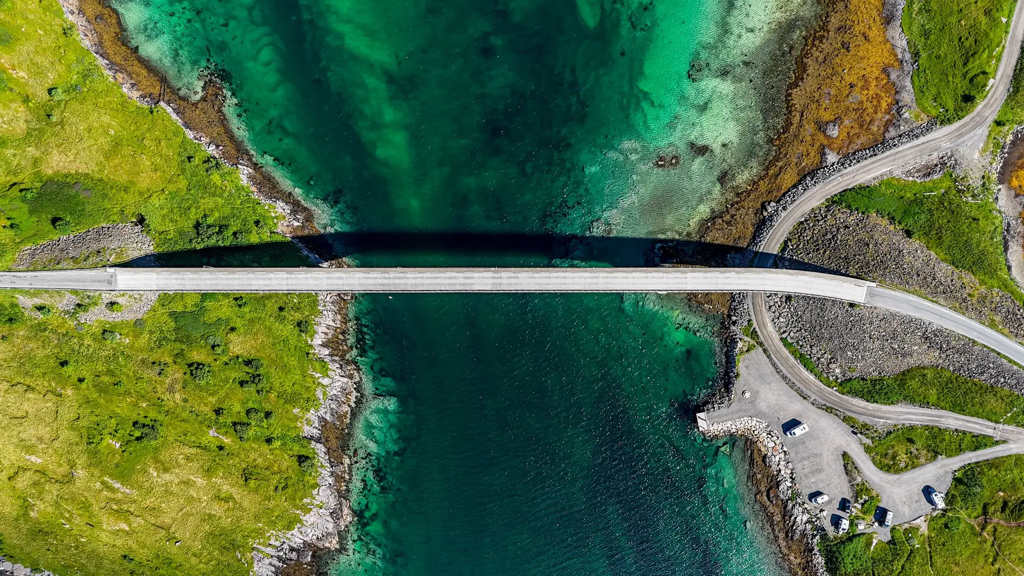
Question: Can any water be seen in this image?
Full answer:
Yes, water shows up in the scene.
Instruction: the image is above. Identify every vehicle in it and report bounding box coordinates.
[784,421,809,437]
[878,508,894,529]
[809,493,829,505]
[924,484,945,509]
[843,498,852,515]
[835,513,850,534]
